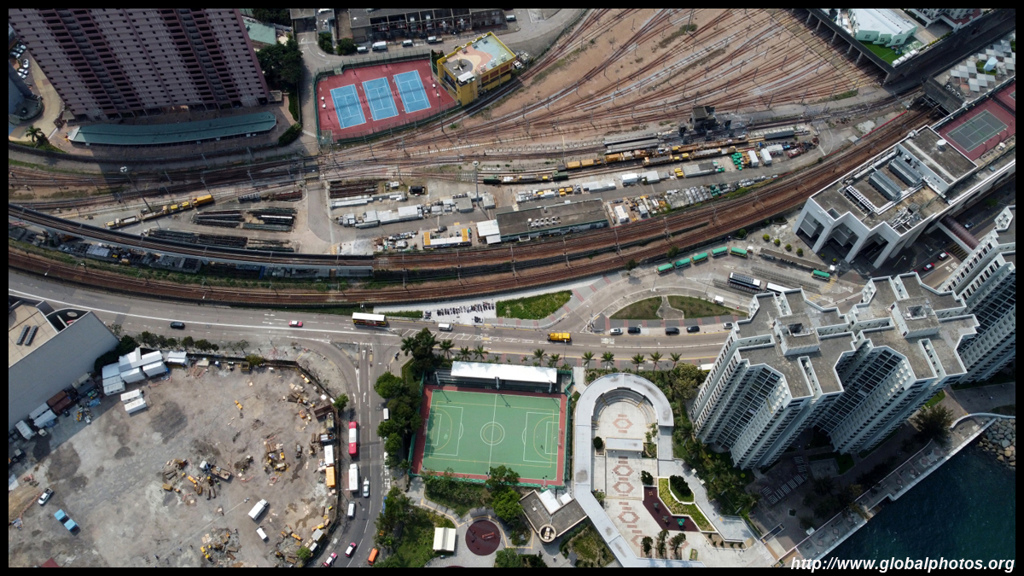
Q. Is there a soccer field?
Yes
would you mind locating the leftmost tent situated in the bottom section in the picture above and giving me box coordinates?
[433,527,456,552]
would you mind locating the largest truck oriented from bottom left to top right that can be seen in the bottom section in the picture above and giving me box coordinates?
[246,497,268,521]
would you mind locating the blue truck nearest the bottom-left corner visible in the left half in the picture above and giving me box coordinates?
[52,509,76,533]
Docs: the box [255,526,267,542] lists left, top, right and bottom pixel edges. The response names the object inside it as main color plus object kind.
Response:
white vehicle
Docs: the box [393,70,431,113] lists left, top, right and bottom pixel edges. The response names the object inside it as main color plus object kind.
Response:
blue tennis court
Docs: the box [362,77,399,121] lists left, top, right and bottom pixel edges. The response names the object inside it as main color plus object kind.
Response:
blue tennis court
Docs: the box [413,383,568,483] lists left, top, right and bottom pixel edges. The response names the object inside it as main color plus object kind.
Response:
green soccer field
